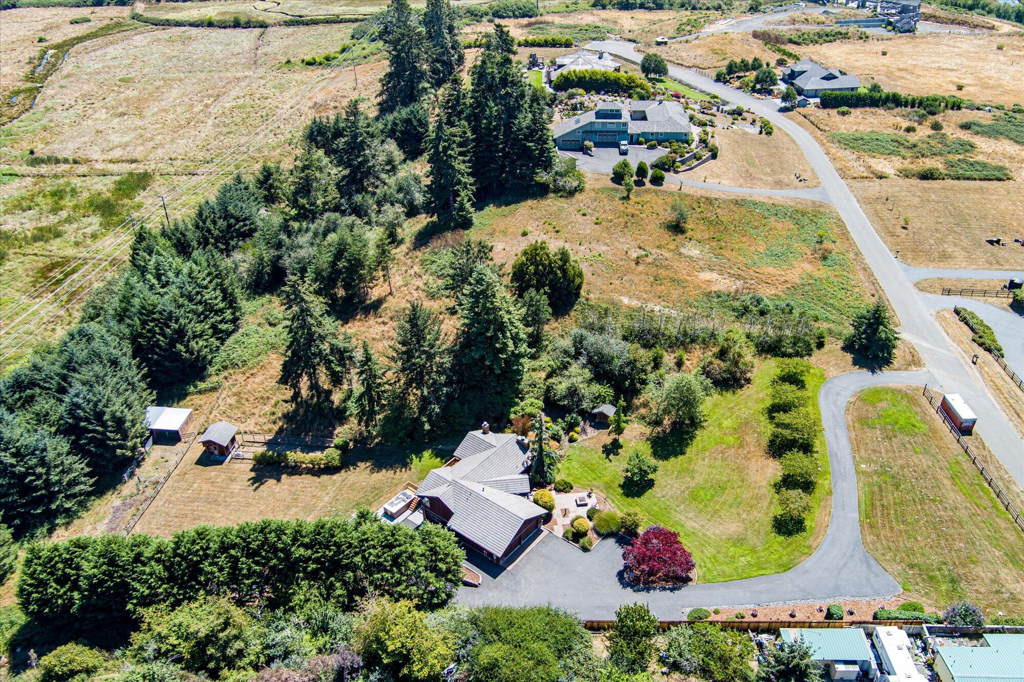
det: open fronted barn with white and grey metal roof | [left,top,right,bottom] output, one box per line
[146,403,200,444]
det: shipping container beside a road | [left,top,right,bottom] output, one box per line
[940,394,979,432]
